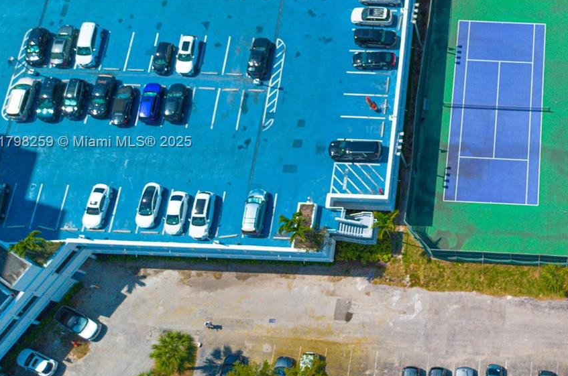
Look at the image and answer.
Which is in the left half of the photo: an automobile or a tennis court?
automobile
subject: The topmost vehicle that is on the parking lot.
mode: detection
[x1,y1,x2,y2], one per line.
[54,308,102,338]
